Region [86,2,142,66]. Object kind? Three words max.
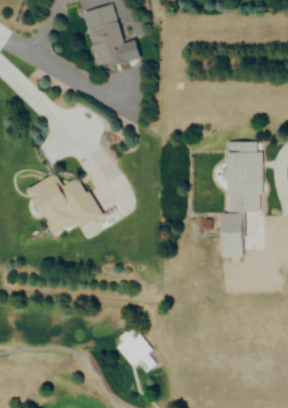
house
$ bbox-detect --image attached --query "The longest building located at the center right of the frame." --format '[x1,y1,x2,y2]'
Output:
[226,142,264,212]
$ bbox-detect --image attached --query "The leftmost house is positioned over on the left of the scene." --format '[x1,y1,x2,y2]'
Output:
[28,174,104,235]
